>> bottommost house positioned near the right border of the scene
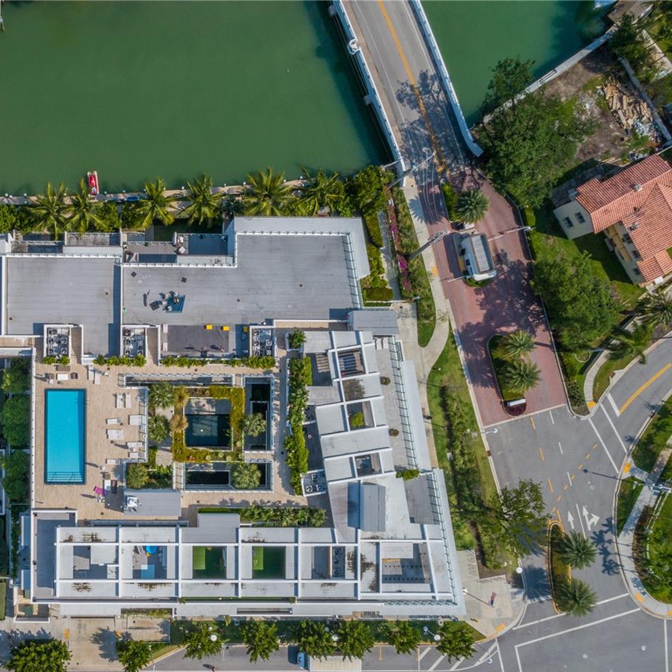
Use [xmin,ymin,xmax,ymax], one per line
[558,154,672,287]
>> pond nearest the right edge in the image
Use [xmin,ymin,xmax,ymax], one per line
[185,414,232,450]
